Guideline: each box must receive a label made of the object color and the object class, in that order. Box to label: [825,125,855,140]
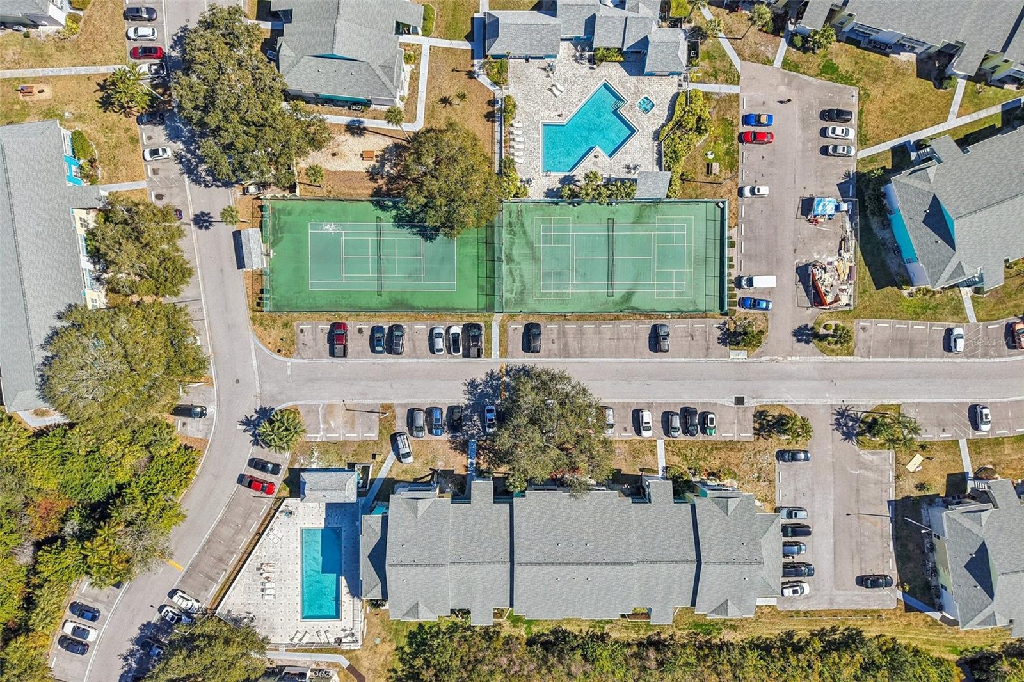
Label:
white car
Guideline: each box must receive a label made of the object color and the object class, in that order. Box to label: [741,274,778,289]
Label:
white vehicle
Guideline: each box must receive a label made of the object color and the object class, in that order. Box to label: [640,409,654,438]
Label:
white car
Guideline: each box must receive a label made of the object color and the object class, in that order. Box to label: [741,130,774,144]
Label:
red car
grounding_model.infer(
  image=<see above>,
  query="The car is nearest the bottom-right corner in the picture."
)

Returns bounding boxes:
[862,574,892,588]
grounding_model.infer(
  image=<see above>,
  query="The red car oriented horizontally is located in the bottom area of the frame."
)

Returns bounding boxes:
[244,476,277,493]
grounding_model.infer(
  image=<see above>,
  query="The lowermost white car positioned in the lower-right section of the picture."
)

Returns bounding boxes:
[781,582,809,597]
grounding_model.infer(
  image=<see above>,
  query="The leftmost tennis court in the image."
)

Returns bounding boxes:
[269,200,494,312]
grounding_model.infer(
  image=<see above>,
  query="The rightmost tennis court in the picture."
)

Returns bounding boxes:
[503,202,723,312]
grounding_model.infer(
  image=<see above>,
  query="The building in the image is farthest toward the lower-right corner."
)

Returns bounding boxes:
[926,475,1024,637]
